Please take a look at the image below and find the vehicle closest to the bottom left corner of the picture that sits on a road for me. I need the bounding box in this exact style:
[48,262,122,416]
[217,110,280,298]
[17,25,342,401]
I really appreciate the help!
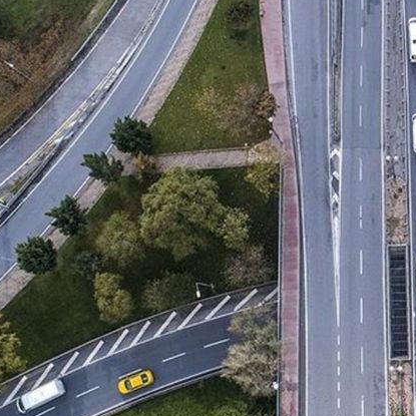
[21,377,71,410]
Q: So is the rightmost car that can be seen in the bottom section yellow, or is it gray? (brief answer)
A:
yellow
